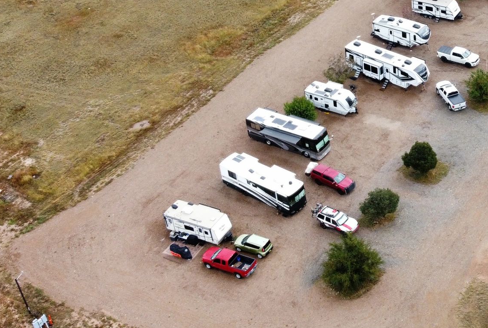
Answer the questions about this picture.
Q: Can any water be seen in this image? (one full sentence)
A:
No, there is no water in the image.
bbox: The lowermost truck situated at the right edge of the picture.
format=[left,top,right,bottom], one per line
[434,81,466,111]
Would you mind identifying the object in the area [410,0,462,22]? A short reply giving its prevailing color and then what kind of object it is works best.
white trailer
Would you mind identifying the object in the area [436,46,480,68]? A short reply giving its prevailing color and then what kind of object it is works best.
white truck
